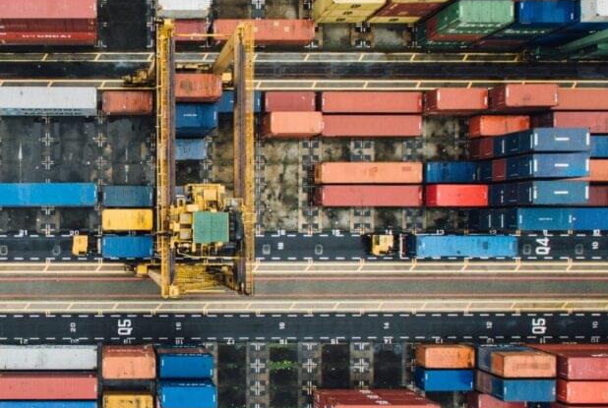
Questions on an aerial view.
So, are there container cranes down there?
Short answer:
Yes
